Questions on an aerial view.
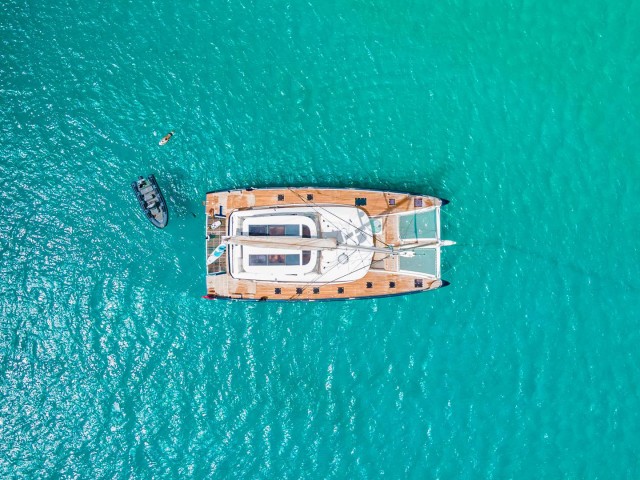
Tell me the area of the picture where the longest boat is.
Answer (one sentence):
The longest boat is located in the center region of the scene.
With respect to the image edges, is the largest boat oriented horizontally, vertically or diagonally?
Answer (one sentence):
The largest boat is oriented horizontally.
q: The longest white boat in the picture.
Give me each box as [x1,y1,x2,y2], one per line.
[202,187,472,301]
